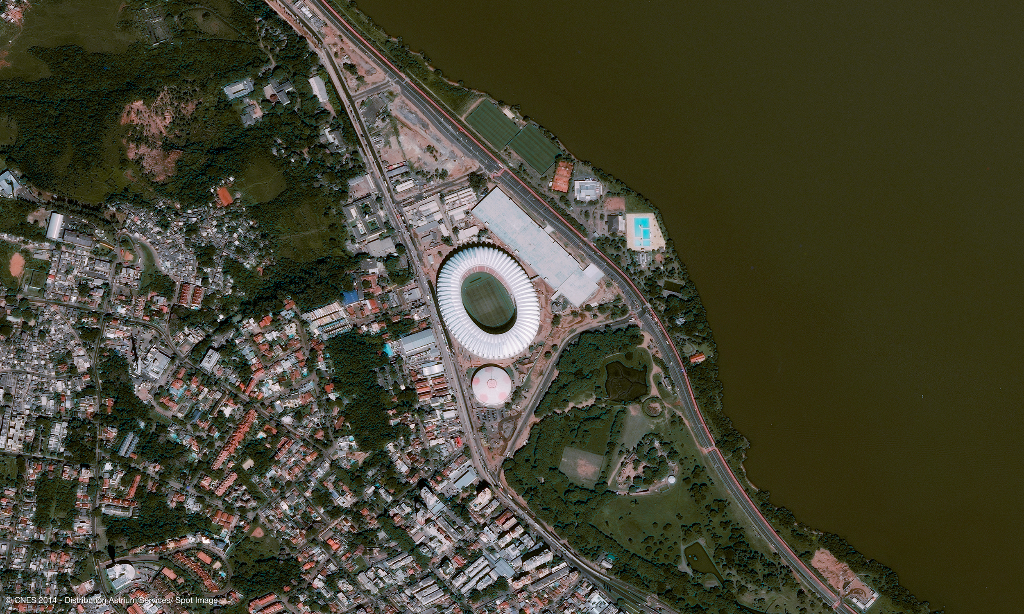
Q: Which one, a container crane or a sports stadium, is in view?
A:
sports stadium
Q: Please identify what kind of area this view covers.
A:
residential area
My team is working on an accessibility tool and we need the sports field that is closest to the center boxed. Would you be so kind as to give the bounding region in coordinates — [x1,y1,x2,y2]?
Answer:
[465,276,511,327]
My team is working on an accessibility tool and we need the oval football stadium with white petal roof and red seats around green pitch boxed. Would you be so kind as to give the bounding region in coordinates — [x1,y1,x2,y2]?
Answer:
[437,248,540,359]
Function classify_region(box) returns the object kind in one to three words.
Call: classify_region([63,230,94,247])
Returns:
building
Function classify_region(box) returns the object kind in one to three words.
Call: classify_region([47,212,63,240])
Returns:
building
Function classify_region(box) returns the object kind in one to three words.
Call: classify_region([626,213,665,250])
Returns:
swimming pool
